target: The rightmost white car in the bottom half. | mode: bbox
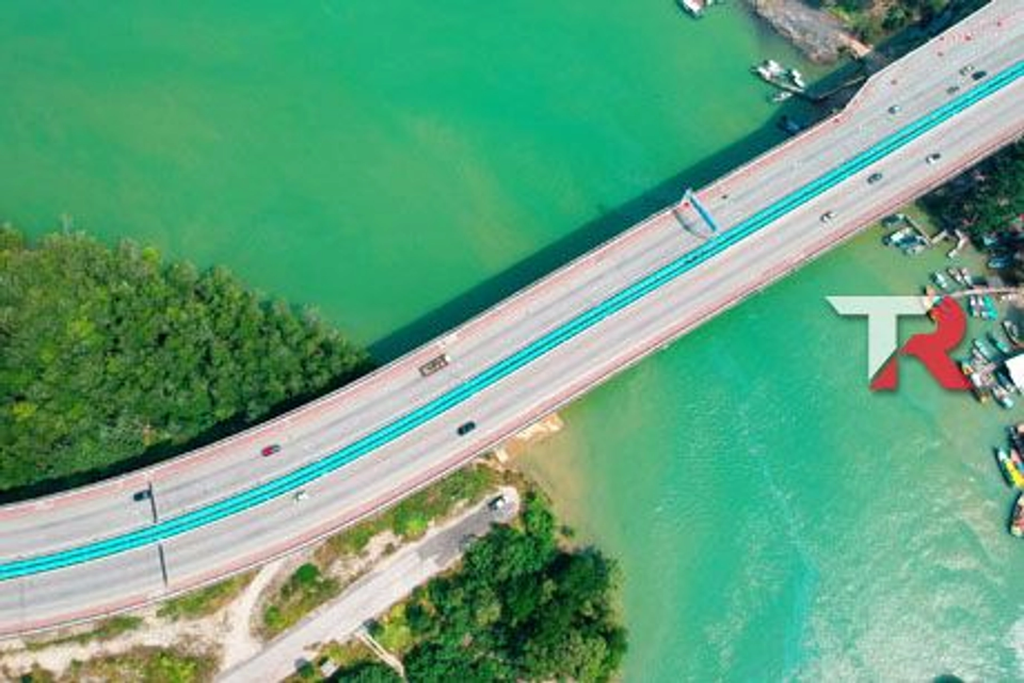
[490,495,508,509]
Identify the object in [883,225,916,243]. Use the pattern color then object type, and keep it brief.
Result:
white boat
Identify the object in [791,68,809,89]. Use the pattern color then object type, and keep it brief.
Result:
white boat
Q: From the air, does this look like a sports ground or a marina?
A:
marina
